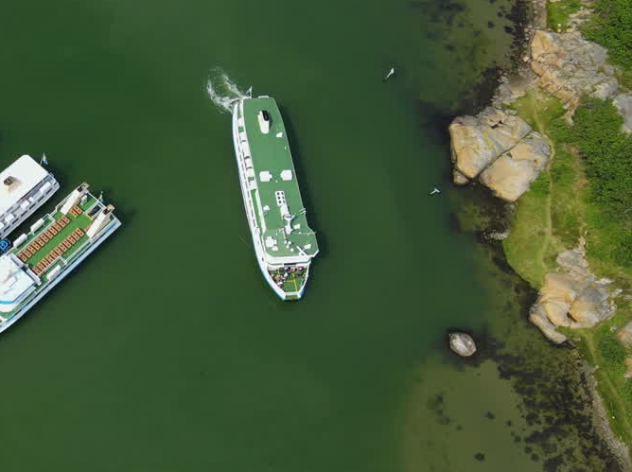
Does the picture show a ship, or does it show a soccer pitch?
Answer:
ship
